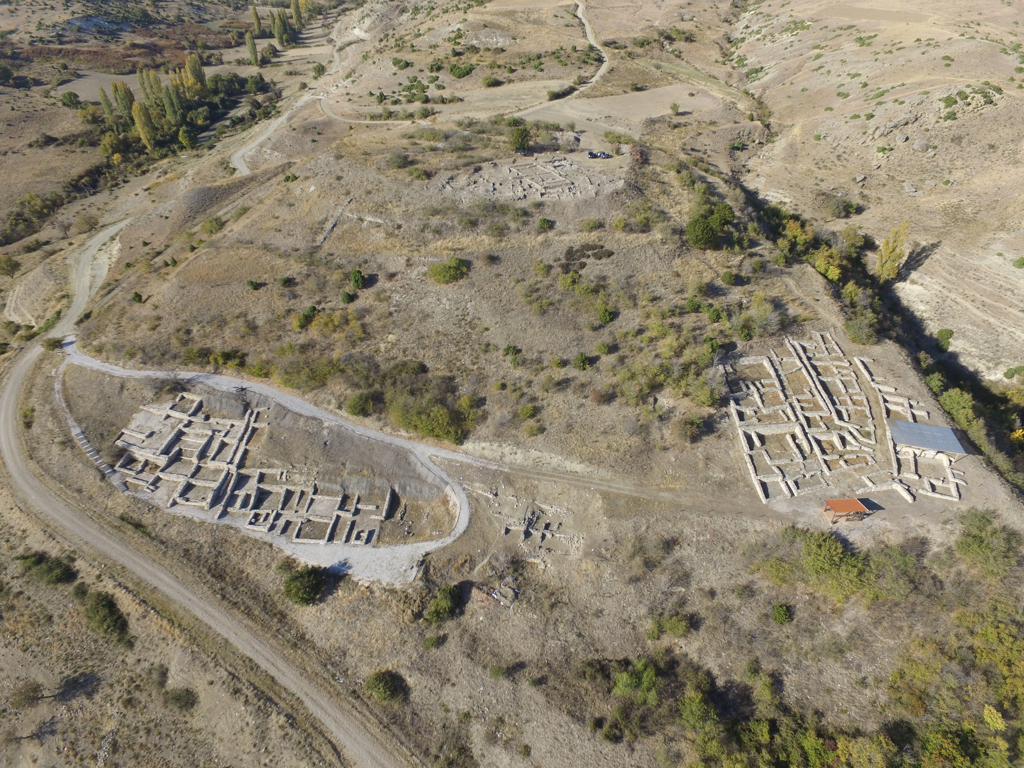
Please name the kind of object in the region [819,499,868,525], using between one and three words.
shed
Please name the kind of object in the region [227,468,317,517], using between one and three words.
house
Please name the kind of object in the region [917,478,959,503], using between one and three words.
house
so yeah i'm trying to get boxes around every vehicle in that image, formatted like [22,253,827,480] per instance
[596,147,610,158]
[587,148,595,158]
